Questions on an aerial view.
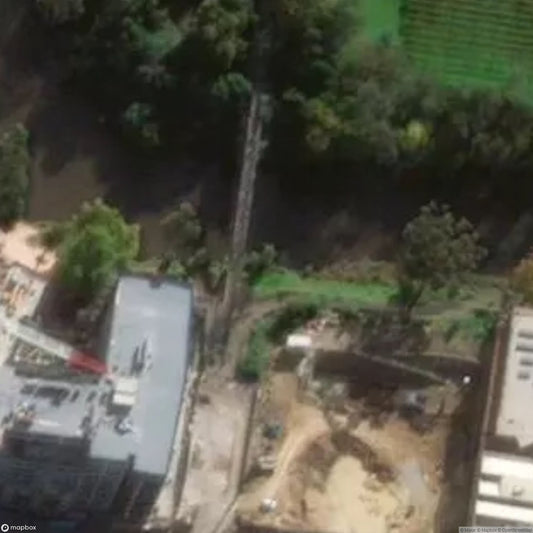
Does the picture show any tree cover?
Yes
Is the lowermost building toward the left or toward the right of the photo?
right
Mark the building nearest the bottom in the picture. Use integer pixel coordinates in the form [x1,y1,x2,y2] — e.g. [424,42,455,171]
[465,448,533,533]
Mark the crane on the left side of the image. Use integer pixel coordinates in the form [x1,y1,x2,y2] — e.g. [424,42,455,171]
[0,315,111,385]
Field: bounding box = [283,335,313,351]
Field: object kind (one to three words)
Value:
building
